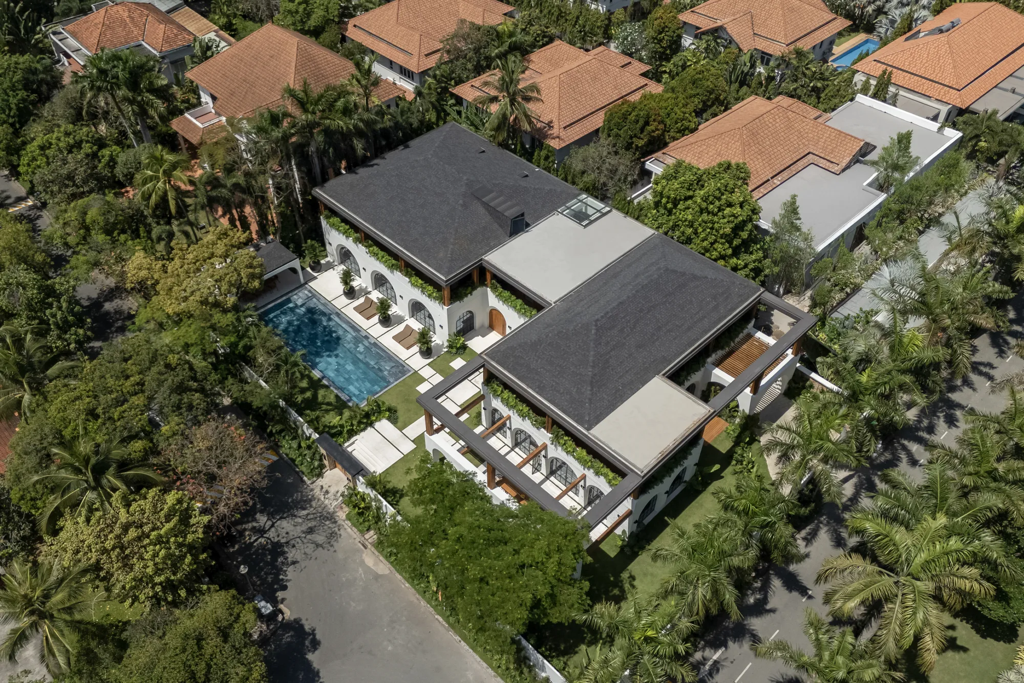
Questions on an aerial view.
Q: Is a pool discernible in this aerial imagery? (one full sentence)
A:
Yes, you can see a pool in this photo.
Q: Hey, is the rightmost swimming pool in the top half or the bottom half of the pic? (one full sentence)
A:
It is in the top half that the rightmost swimming pool appears.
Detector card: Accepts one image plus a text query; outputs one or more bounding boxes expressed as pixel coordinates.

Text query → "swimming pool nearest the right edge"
[827,32,881,74]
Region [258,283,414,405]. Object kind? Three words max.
swimming pool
